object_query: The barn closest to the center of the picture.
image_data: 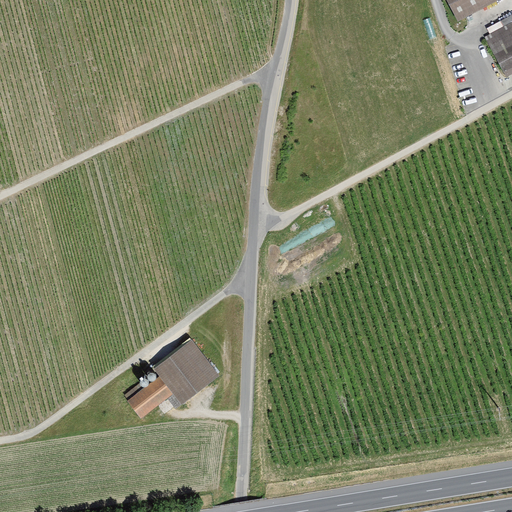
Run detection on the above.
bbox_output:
[154,338,218,404]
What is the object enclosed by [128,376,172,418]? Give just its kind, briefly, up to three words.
building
